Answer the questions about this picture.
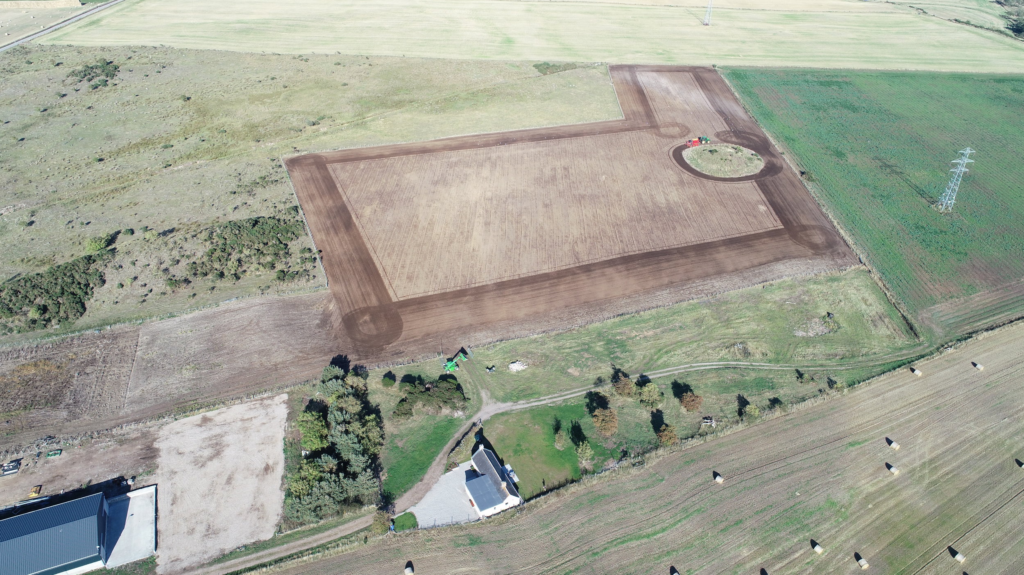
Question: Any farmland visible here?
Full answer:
Yes, there's farmland in this view.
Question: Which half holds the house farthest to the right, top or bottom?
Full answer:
The house farthest to the right sits in the bottom half of the picture.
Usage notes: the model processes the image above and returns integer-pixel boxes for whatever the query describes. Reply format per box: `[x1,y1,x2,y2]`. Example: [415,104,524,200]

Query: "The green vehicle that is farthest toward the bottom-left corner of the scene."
[442,352,470,374]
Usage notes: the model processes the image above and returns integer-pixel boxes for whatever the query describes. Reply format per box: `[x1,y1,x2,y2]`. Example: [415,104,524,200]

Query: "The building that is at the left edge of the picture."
[0,492,111,575]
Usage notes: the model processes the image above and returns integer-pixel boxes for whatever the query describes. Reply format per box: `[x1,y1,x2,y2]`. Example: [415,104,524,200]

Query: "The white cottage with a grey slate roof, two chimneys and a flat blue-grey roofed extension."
[464,444,520,519]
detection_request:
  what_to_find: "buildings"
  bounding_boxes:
[464,444,520,519]
[0,492,111,575]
